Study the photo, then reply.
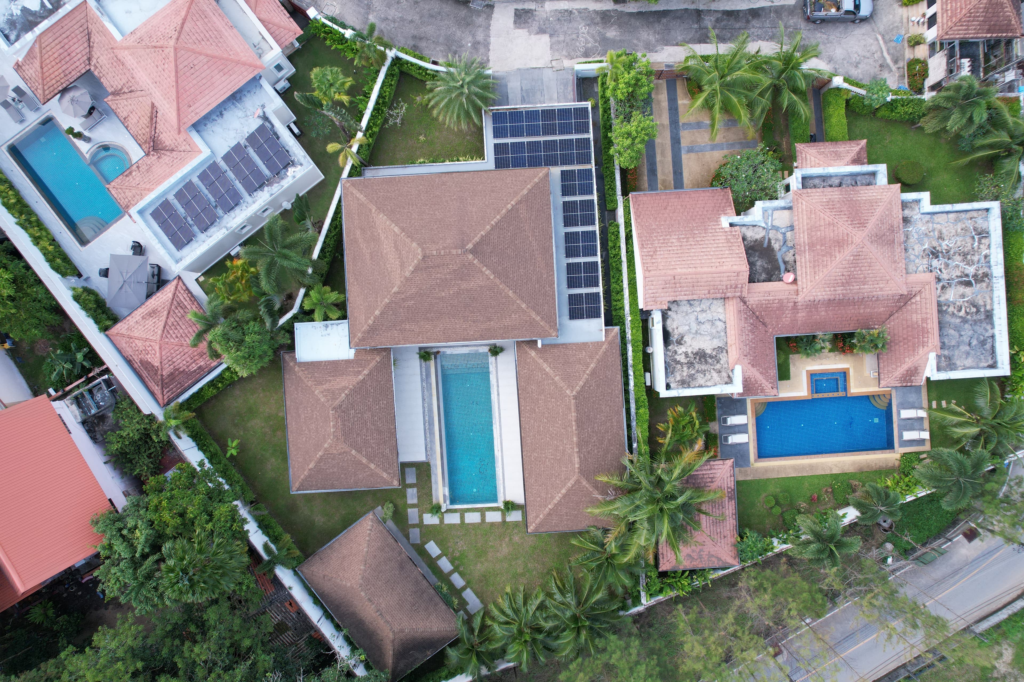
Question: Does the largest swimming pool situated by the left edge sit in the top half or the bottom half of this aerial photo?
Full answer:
The largest swimming pool situated by the left edge sits in the top half of the picture.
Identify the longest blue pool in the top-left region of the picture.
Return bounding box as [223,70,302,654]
[6,114,124,246]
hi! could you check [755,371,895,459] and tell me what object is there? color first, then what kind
blue swimming pool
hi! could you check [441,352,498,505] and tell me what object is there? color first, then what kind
blue swimming pool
